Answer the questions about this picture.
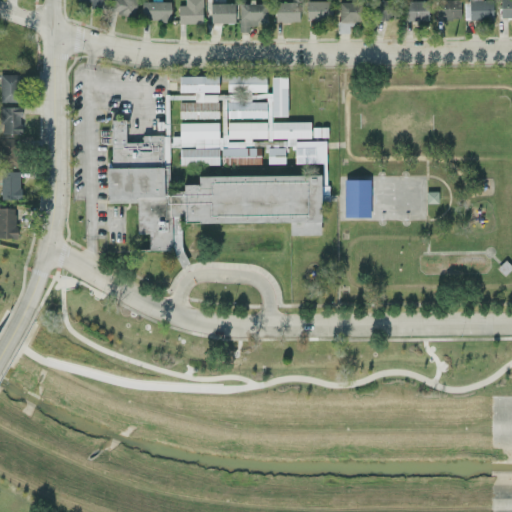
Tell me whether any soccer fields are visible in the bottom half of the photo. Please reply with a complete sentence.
No, I see no soccer field in the bottom half of the photo.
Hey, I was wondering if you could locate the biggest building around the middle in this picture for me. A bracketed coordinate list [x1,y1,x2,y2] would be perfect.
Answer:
[184,176,322,236]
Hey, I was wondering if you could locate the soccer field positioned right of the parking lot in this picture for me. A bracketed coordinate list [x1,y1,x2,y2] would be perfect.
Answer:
[362,99,432,145]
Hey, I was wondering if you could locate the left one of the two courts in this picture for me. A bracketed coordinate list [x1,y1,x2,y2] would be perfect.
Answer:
[374,176,398,220]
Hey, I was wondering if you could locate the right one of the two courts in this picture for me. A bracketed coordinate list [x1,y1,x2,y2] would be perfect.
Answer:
[398,176,422,220]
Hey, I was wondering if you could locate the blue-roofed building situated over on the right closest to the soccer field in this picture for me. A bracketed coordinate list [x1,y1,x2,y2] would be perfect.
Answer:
[346,180,372,218]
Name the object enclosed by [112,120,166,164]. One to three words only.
building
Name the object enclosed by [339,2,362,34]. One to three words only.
house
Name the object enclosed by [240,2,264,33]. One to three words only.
house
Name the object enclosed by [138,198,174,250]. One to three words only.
building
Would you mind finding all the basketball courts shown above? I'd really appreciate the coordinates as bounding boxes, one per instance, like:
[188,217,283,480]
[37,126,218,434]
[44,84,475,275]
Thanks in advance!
[398,176,422,220]
[374,176,398,220]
